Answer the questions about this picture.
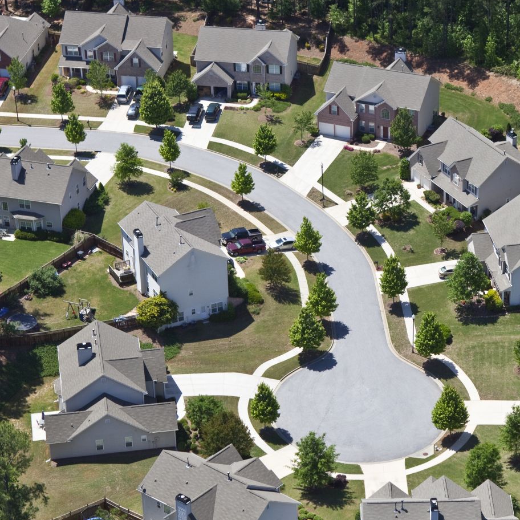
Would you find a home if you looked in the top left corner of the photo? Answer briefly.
Yes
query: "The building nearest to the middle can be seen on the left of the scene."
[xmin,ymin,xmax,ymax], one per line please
[103,199,227,331]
